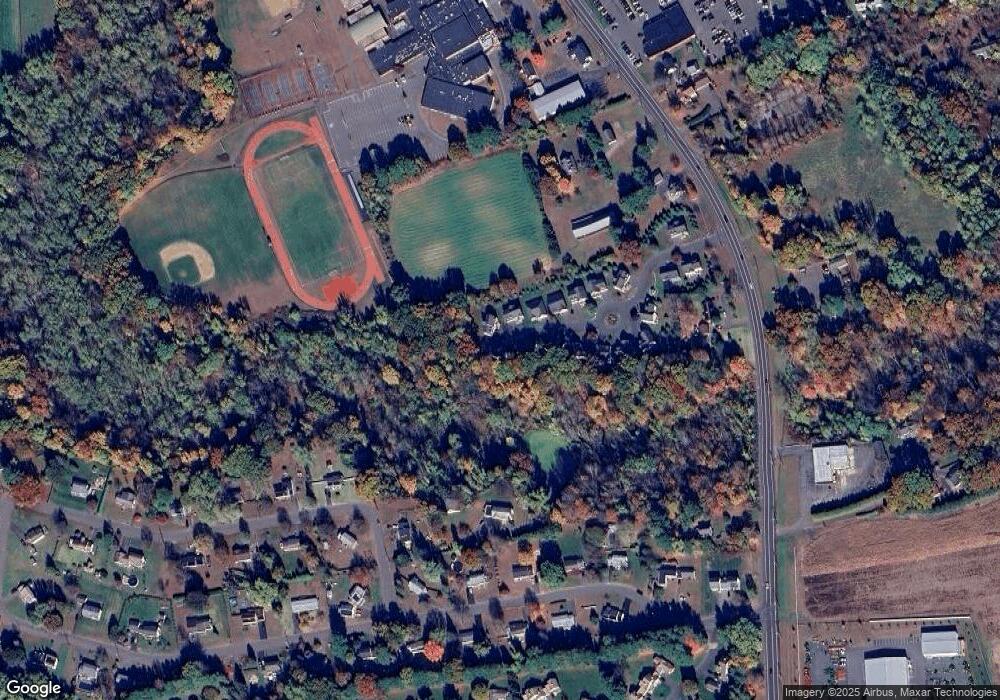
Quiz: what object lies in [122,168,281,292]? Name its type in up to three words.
baseball field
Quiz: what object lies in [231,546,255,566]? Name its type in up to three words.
house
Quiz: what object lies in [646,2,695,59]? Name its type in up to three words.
building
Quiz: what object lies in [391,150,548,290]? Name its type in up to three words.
sports field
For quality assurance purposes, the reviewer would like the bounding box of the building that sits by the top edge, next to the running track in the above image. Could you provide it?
[343,0,499,120]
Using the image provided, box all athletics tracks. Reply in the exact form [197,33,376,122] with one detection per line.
[247,114,383,307]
